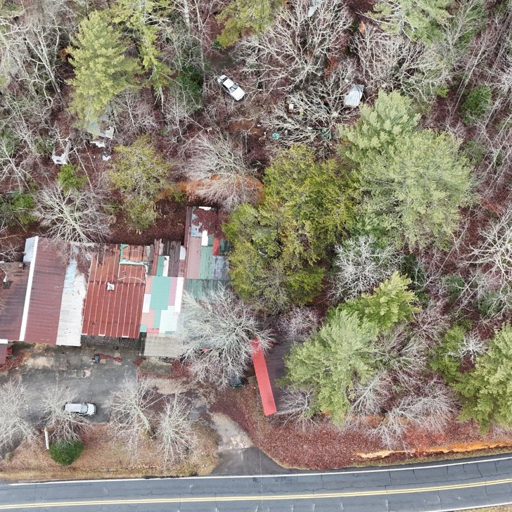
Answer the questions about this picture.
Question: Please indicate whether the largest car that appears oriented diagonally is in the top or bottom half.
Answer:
top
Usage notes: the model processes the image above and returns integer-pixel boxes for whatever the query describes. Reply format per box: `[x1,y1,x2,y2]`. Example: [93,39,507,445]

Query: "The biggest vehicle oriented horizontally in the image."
[64,402,97,418]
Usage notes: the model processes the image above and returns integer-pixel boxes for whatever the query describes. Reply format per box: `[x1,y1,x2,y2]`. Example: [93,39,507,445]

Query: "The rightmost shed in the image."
[343,85,364,111]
